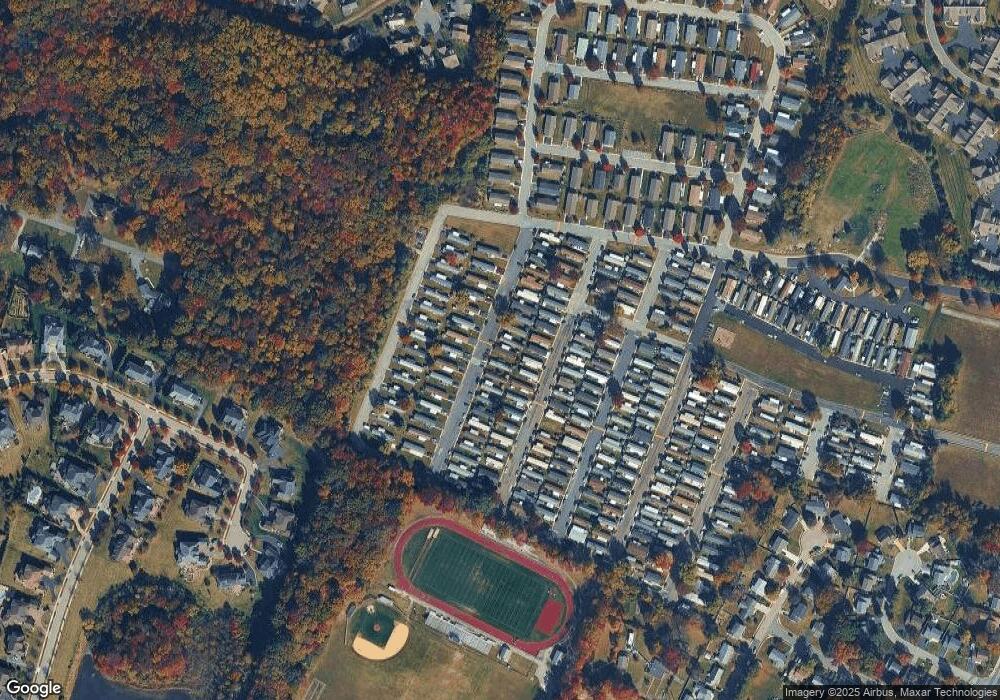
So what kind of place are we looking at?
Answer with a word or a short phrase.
residential area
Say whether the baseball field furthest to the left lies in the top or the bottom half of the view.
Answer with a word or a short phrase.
bottom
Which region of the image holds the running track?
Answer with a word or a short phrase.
bottom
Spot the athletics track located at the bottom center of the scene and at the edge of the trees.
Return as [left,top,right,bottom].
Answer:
[395,516,573,656]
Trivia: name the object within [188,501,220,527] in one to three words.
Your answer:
house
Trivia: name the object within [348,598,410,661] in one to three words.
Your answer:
baseball field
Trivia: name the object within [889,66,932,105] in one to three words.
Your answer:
building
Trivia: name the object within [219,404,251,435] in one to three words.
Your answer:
house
